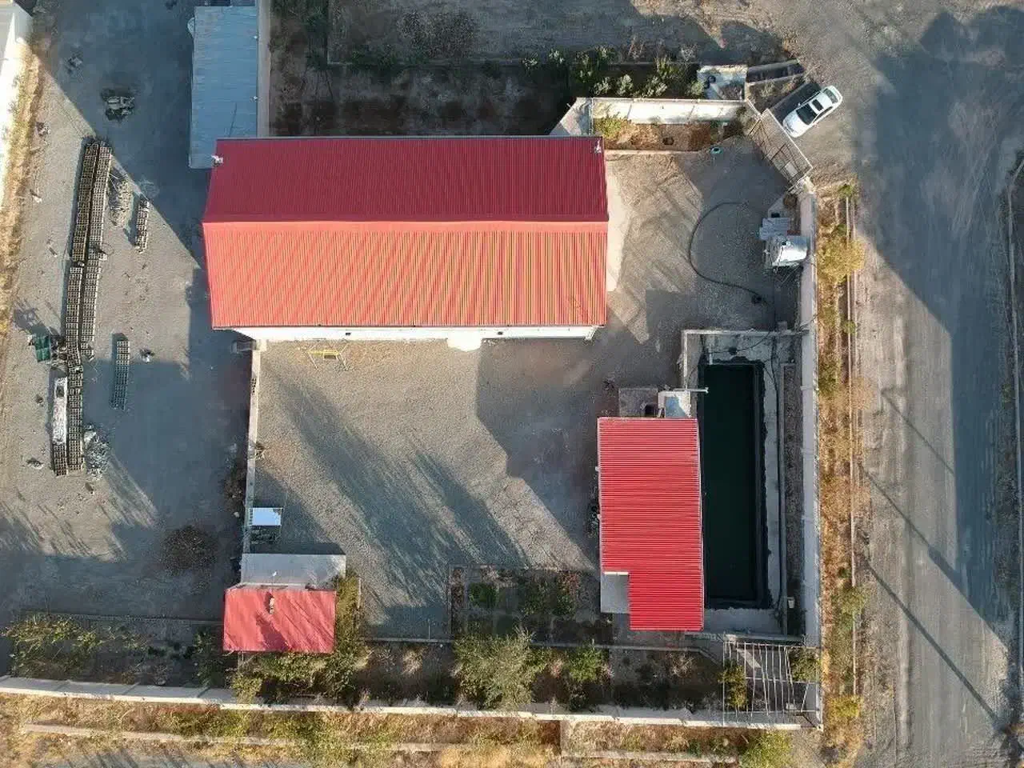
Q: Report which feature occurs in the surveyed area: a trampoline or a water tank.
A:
water tank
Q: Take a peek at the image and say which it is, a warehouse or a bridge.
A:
warehouse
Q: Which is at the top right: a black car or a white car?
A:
white car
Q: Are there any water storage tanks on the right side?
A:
Yes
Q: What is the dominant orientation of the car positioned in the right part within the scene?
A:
at an angle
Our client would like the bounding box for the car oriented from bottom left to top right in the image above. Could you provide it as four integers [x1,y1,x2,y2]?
[780,81,848,140]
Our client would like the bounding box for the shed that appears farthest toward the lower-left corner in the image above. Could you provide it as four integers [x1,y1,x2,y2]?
[223,549,355,653]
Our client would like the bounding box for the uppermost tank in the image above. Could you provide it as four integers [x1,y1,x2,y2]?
[767,237,808,282]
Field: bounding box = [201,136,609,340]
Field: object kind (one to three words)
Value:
warehouse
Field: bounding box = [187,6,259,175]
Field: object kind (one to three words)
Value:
shed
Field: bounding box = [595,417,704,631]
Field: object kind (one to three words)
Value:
building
